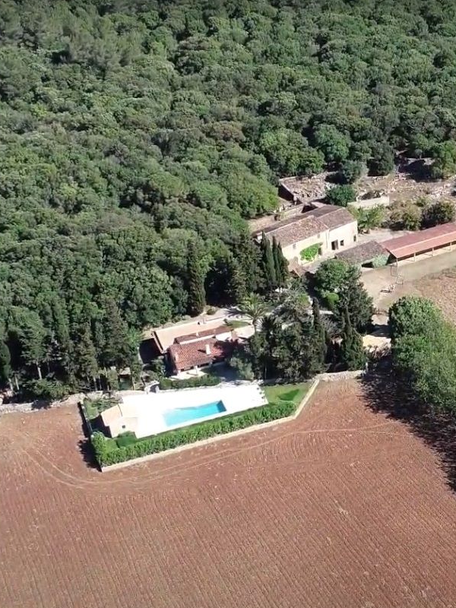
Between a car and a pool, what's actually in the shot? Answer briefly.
pool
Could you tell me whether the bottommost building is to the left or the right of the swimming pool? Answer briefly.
to the left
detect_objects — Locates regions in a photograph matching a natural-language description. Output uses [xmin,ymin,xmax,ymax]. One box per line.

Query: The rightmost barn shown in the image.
[376,223,456,266]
